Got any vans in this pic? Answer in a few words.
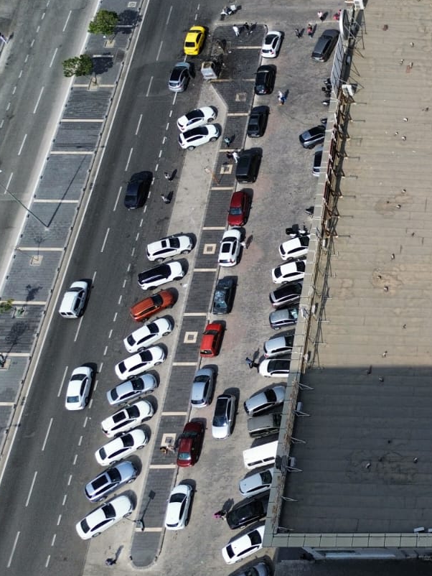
Yes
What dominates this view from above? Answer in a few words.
paved ground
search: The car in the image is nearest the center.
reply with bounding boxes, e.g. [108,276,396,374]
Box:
[210,276,240,314]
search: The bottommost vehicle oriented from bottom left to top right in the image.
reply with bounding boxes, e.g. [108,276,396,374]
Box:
[221,523,267,565]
